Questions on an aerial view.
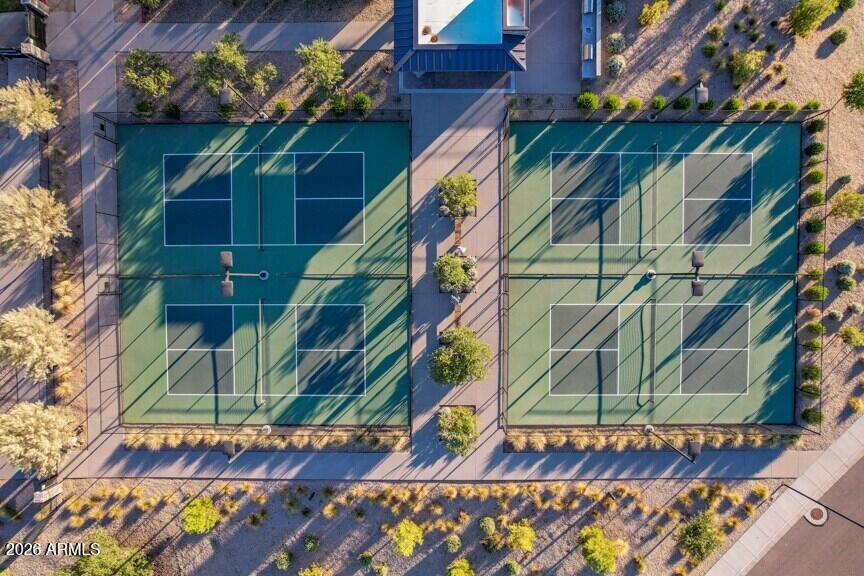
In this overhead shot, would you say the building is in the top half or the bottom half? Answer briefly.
top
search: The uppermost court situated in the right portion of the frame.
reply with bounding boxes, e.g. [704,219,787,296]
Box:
[508,122,801,275]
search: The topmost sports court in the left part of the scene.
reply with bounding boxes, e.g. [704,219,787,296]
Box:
[116,122,408,275]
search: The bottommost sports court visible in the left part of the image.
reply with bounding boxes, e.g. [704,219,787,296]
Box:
[119,276,408,427]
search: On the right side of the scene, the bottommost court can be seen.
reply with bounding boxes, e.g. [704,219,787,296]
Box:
[508,276,799,427]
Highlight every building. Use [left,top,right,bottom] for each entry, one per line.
[393,0,532,93]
